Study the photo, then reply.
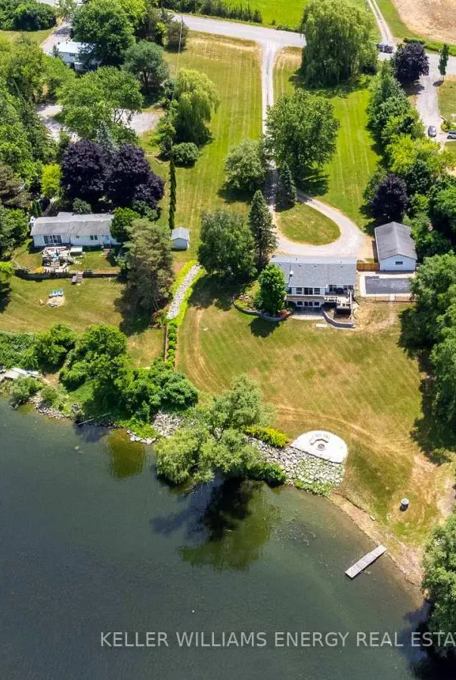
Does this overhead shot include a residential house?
Yes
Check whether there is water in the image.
Yes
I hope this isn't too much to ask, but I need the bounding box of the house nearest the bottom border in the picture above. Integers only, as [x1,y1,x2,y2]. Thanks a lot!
[267,255,357,322]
